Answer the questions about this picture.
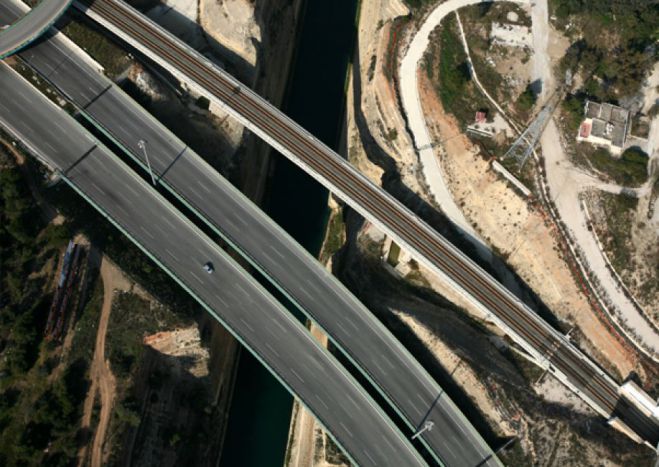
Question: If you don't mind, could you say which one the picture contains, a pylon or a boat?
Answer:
pylon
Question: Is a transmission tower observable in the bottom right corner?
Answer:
No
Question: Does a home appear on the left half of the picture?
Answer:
No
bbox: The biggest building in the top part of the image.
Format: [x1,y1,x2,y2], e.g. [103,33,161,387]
[575,100,631,161]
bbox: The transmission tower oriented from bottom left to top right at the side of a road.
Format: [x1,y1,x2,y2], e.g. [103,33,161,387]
[500,85,565,170]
